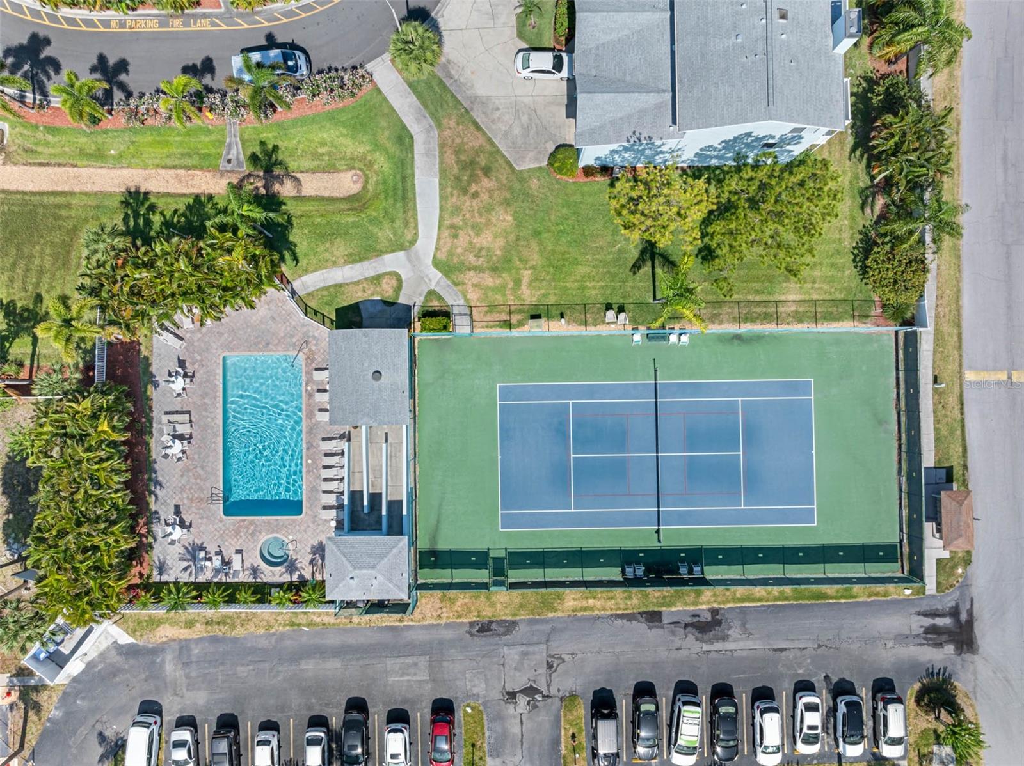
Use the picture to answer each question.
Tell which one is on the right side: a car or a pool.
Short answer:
car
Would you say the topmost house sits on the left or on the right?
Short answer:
right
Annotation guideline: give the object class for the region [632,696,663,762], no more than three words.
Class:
car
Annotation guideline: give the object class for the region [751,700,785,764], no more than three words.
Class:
car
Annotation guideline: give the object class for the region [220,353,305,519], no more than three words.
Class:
swimming pool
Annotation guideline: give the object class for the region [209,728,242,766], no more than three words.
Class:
truck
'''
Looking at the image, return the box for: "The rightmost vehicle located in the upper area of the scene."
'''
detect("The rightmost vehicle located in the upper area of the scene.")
[514,46,572,81]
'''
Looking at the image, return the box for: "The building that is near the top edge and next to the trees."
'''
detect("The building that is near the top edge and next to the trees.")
[571,0,862,167]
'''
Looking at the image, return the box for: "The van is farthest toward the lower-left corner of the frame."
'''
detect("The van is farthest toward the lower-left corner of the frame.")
[127,713,165,766]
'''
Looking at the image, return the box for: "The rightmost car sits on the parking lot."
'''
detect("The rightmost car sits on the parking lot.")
[873,692,911,760]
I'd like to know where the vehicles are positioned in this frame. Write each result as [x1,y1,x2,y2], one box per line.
[591,705,622,766]
[127,713,165,766]
[254,730,282,766]
[304,726,331,766]
[751,700,785,764]
[833,695,868,758]
[338,711,371,766]
[170,726,200,766]
[384,723,412,766]
[514,46,572,81]
[209,728,242,766]
[670,693,703,764]
[426,713,457,766]
[791,692,825,755]
[632,696,663,762]
[873,692,911,760]
[710,697,743,761]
